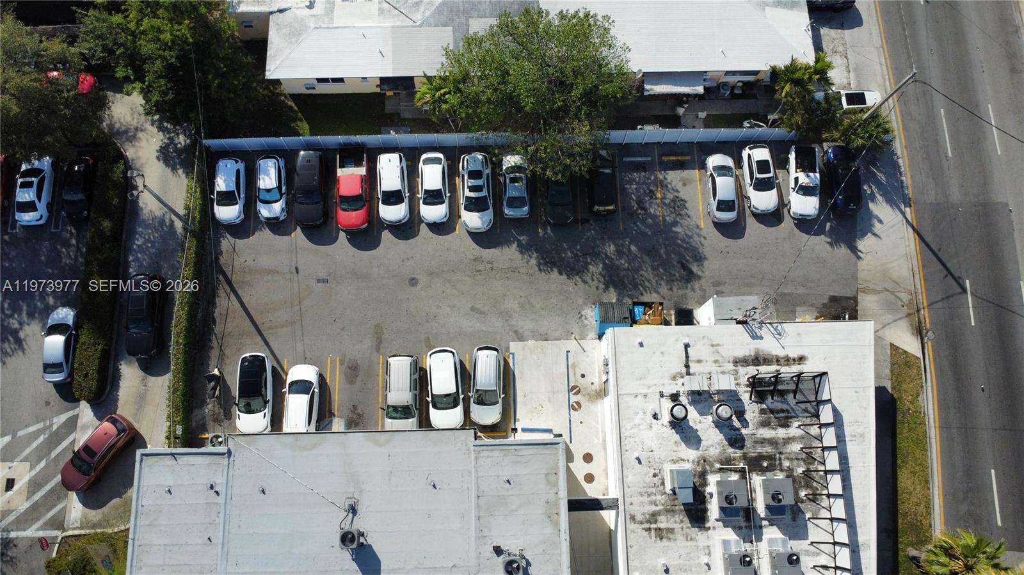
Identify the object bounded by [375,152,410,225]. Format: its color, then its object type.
white car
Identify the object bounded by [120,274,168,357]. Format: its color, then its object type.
black car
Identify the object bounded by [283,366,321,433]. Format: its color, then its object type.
white car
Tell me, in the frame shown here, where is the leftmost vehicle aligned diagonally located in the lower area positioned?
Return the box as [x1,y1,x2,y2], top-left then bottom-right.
[66,413,139,489]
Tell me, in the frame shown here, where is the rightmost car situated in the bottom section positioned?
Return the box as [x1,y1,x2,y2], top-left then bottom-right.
[468,347,505,426]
